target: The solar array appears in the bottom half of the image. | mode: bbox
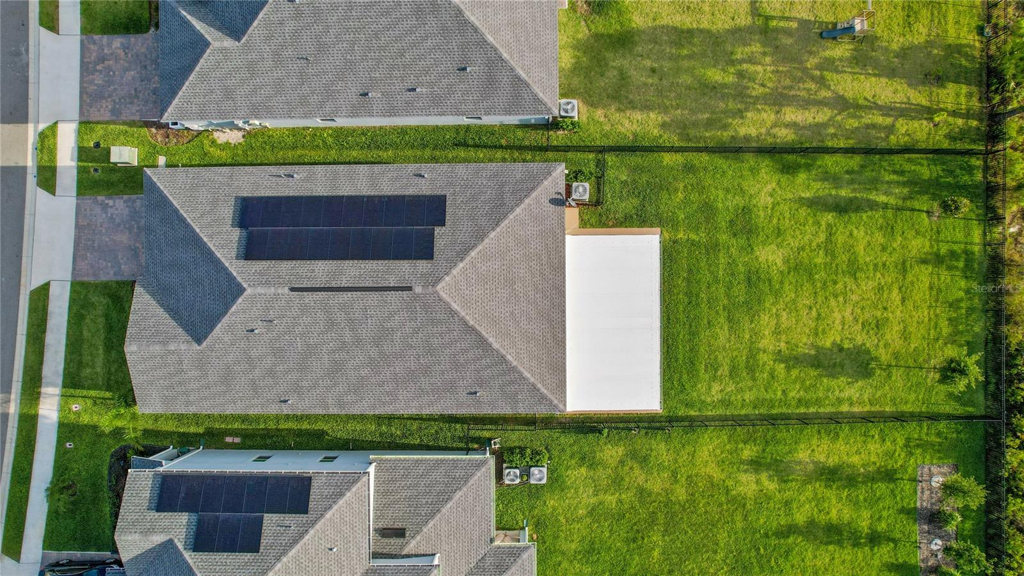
[153,475,312,551]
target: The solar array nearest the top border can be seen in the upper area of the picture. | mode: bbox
[235,195,446,260]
